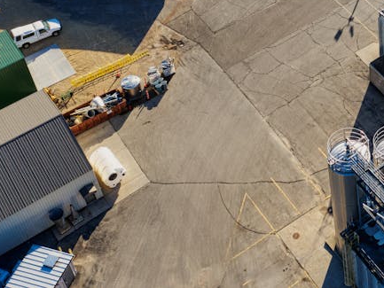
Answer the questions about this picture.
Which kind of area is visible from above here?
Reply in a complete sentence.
The area seen from above is an industrial area.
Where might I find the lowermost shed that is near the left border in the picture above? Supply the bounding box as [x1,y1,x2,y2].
[6,246,80,288]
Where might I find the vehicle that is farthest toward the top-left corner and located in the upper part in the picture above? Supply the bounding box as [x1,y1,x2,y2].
[8,22,63,50]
